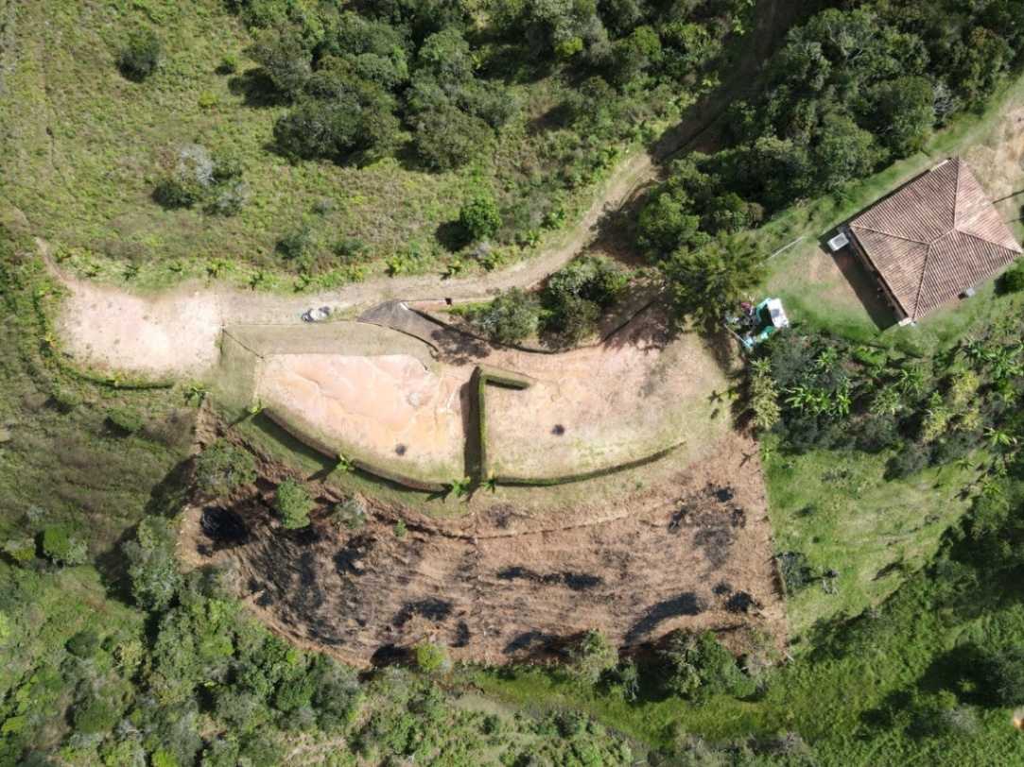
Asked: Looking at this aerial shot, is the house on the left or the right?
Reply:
right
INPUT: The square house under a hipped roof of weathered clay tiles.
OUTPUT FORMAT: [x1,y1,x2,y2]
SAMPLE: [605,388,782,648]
[842,155,1024,330]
